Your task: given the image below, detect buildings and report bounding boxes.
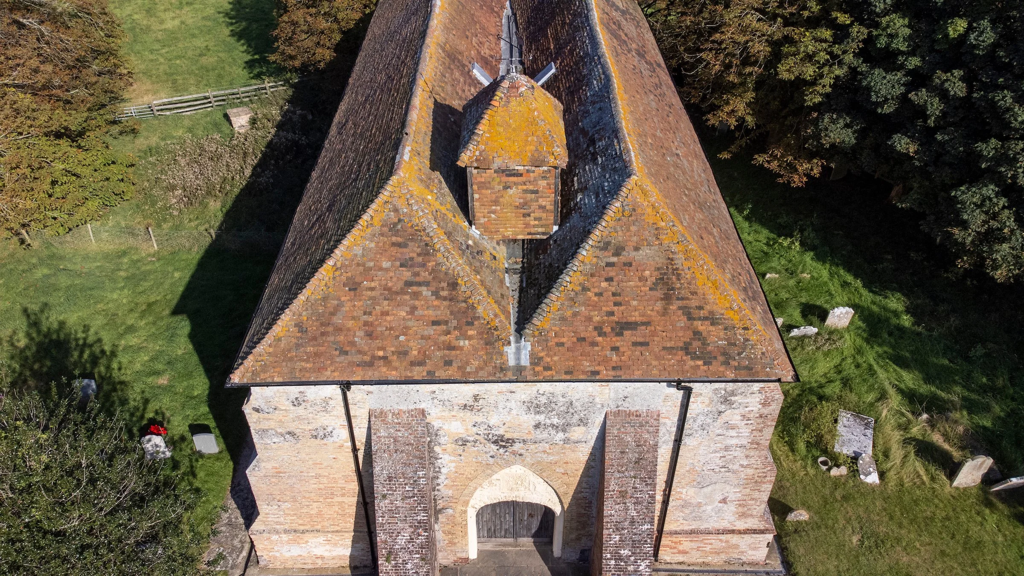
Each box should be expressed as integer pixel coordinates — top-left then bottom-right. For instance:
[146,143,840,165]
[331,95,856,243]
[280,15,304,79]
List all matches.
[221,0,802,576]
